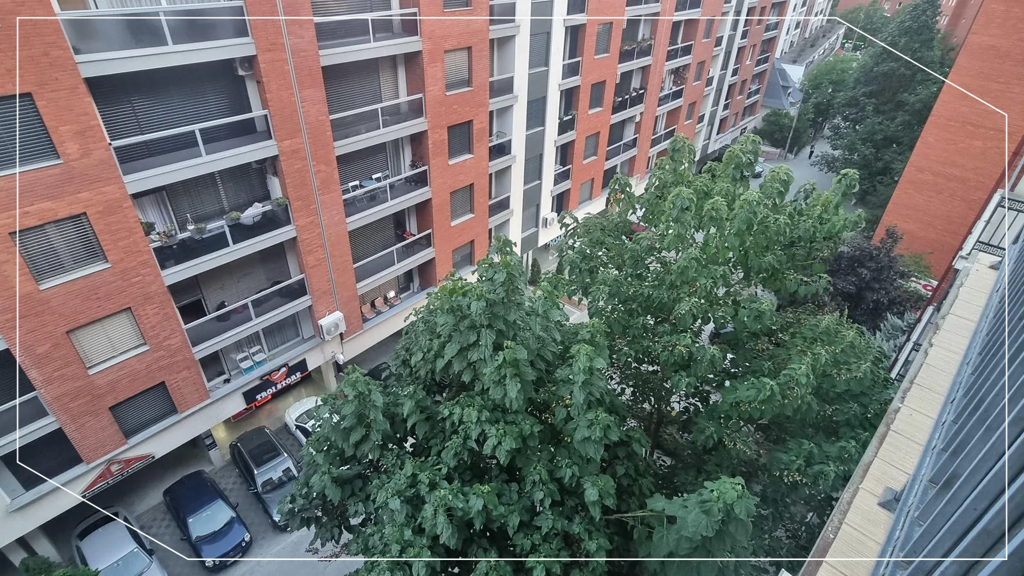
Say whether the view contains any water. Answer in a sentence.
No, the scene doesn't show any water.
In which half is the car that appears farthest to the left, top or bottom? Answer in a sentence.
You can find the car that appears farthest to the left in the bottom half.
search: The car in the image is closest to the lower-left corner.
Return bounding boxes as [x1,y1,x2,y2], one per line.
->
[82,507,163,576]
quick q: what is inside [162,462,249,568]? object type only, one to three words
car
